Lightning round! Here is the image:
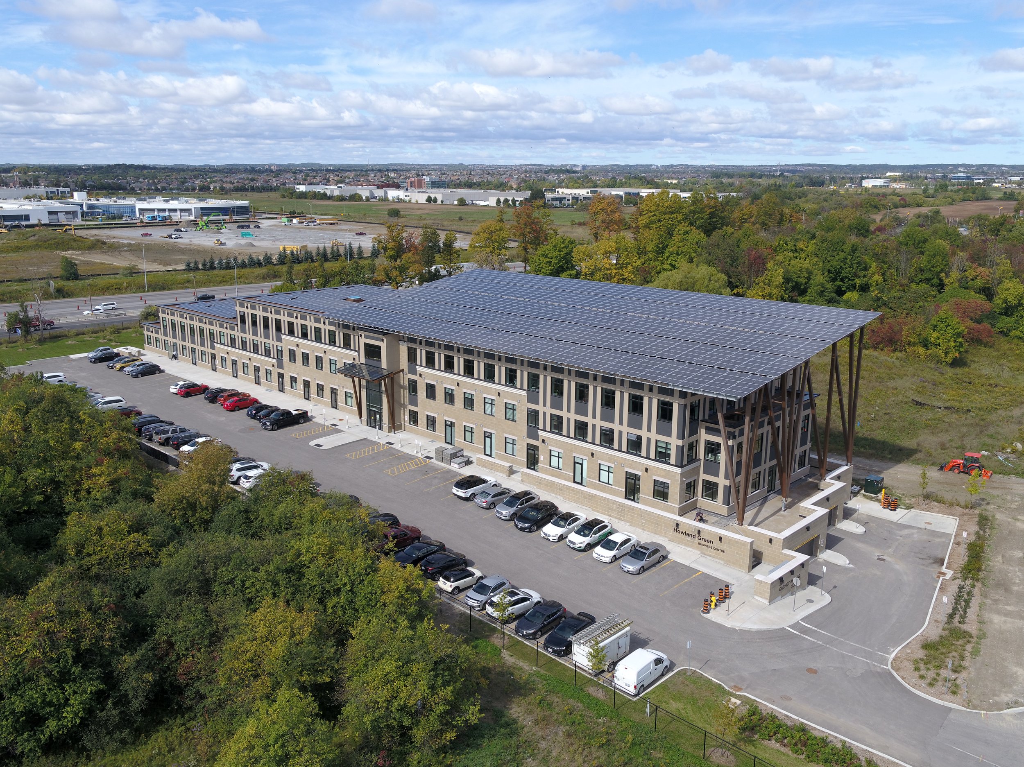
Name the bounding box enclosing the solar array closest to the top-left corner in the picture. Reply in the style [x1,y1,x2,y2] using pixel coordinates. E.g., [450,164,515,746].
[175,299,237,319]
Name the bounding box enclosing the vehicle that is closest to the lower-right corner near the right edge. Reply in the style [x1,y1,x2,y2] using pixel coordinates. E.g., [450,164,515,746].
[937,452,991,478]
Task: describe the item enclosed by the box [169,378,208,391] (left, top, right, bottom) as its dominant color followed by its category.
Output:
white vehicle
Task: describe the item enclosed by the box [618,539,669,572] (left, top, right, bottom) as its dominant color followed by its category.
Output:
gray car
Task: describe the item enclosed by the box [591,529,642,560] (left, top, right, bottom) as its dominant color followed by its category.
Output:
white car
